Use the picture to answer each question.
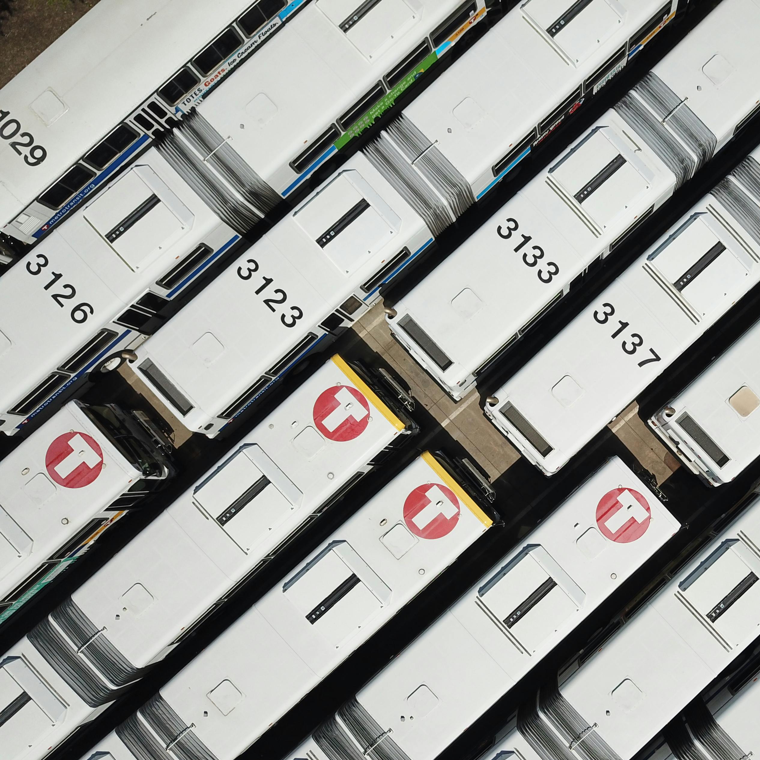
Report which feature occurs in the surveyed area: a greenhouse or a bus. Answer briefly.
bus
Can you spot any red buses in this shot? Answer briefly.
No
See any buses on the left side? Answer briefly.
Yes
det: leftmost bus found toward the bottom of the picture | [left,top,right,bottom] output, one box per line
[0,389,186,631]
